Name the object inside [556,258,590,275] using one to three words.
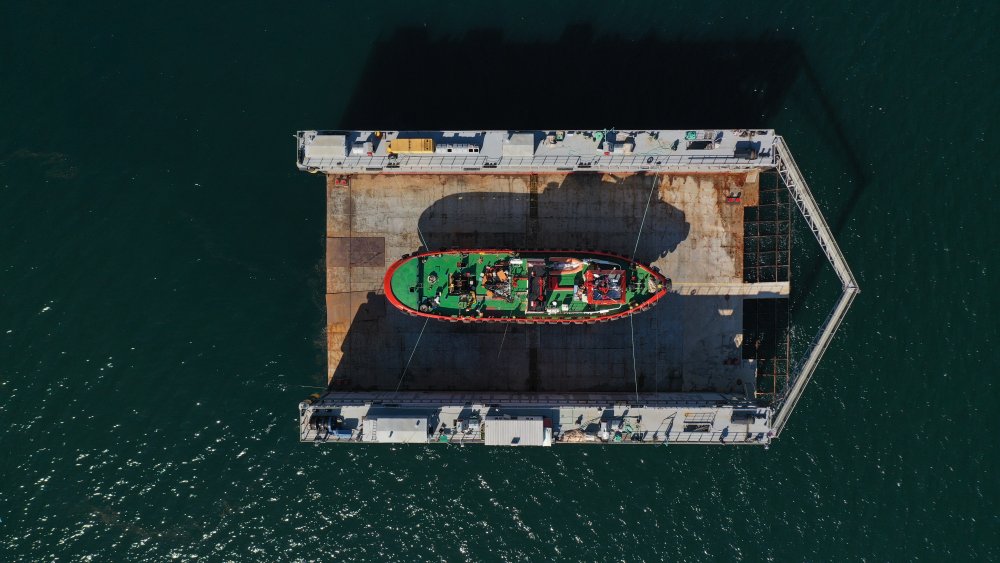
boat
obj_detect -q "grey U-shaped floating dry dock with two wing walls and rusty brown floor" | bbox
[296,131,793,444]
